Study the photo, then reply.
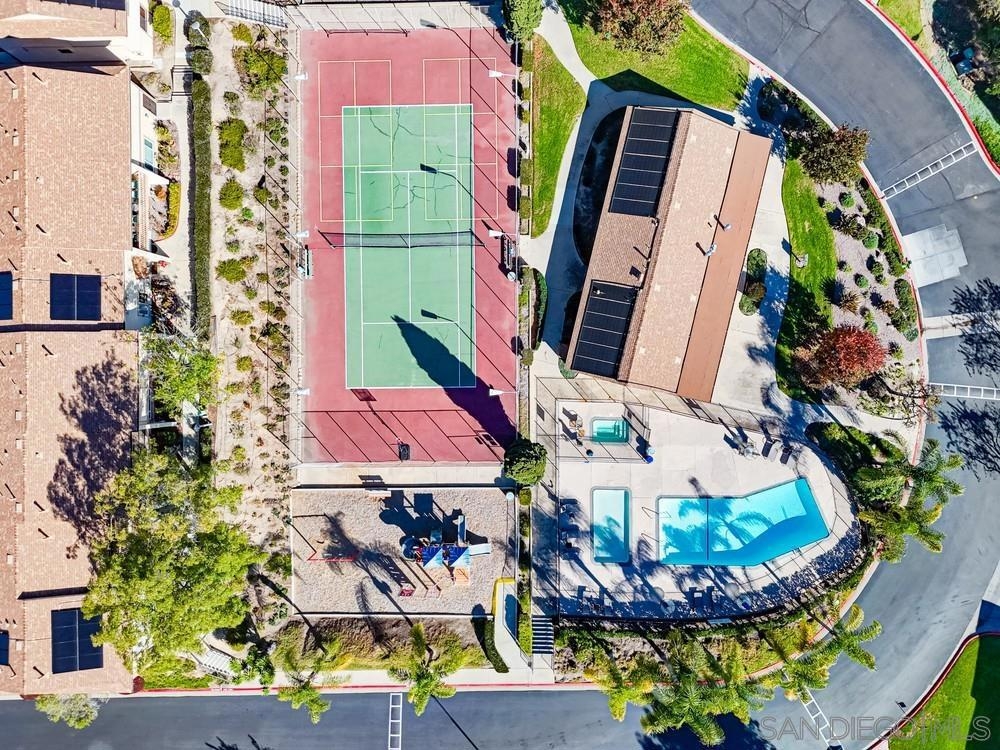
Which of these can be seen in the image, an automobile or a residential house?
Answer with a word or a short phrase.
residential house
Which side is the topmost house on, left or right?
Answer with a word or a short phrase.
left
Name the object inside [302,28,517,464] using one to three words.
tennis court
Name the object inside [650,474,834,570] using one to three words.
swimming pool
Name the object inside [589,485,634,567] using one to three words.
swimming pool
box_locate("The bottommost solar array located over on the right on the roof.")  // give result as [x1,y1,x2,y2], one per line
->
[570,279,637,378]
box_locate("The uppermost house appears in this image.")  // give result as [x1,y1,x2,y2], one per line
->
[0,0,146,61]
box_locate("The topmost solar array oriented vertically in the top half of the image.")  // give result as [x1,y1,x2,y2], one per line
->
[606,108,677,220]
